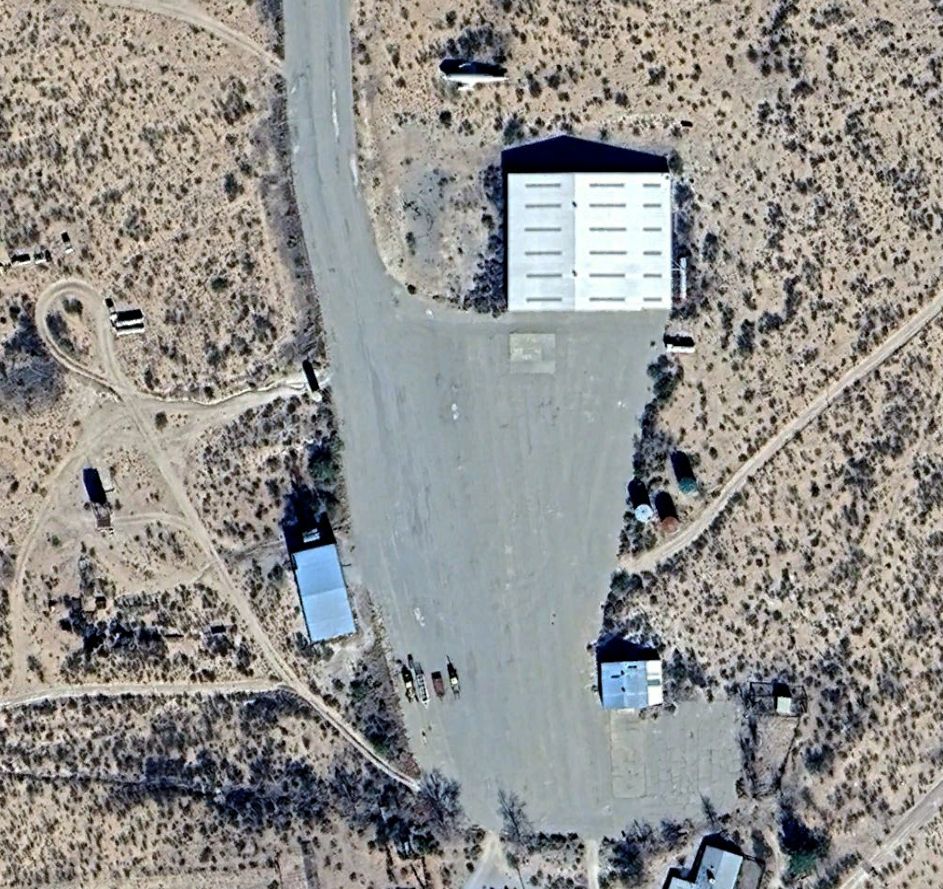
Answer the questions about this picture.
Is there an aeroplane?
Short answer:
Yes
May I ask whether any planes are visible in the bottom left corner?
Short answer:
No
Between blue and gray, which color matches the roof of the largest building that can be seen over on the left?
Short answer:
blue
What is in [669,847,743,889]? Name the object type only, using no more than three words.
house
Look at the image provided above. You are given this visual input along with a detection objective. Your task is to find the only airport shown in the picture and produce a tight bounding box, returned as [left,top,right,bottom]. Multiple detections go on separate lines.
[283,0,741,838]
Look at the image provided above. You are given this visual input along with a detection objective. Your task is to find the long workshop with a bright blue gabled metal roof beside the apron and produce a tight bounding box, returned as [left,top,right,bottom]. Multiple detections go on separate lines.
[291,544,355,643]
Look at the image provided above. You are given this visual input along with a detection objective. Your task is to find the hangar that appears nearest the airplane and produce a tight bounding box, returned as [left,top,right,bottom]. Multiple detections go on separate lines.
[507,170,672,310]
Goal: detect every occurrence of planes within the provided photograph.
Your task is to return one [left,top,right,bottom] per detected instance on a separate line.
[441,64,506,91]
